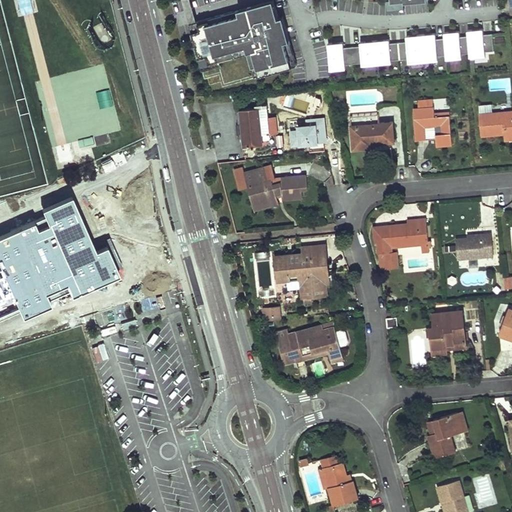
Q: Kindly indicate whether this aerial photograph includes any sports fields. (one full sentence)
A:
Yes, this view includes a sports field.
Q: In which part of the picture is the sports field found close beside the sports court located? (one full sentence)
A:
The sports field found close beside the sports court is located in the top left region of the scene.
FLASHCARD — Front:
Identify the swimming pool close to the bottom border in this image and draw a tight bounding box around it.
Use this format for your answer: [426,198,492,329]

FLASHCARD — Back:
[305,471,321,497]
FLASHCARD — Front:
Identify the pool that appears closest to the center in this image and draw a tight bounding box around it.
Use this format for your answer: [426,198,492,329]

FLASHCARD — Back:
[257,260,272,288]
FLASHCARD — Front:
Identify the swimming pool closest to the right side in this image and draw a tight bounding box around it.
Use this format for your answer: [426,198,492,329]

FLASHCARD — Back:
[489,78,506,90]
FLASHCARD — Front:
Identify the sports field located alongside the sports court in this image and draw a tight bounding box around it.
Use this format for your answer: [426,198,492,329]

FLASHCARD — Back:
[0,0,48,198]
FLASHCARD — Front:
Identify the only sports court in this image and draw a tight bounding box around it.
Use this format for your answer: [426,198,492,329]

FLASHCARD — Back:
[35,64,121,148]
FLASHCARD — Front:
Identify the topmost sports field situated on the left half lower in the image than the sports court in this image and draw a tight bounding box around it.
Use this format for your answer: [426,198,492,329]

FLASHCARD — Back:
[0,327,94,402]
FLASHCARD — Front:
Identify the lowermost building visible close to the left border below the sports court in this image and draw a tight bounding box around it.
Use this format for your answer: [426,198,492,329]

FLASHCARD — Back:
[0,198,122,320]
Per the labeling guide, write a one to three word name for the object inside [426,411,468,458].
house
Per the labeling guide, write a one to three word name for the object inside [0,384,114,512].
sports field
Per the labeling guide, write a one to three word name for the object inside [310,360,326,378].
swimming pool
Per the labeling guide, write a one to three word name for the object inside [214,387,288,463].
roundabout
